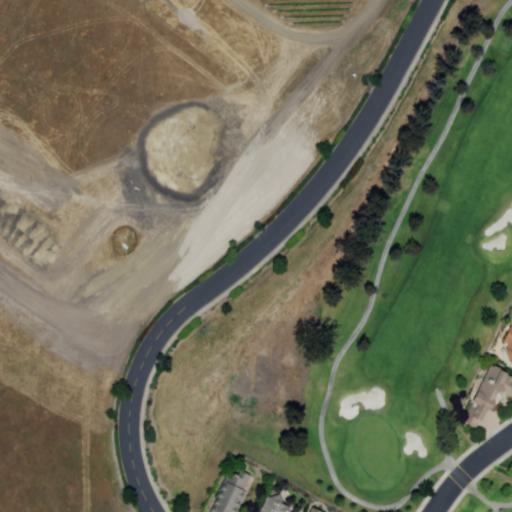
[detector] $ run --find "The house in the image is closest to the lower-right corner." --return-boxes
[465,366,512,427]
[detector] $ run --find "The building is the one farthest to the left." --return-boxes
[206,468,254,512]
